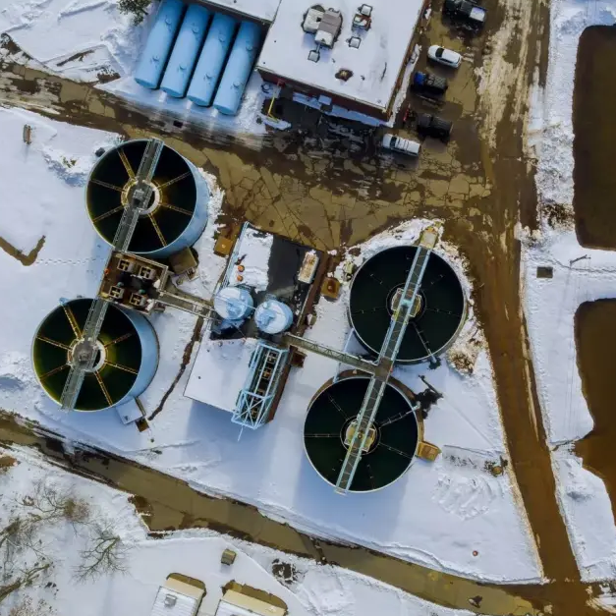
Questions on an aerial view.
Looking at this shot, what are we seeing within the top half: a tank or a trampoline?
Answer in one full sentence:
Looking within the top half, you will find a tank.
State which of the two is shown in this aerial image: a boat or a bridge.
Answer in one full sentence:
The image shows a bridge.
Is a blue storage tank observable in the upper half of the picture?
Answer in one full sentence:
Yes, a blue storage tank appears in the upper half of the picture.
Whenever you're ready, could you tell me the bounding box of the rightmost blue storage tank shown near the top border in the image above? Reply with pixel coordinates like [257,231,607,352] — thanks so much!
[215,17,263,127]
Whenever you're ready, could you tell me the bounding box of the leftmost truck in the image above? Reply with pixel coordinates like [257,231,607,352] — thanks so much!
[382,135,421,158]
